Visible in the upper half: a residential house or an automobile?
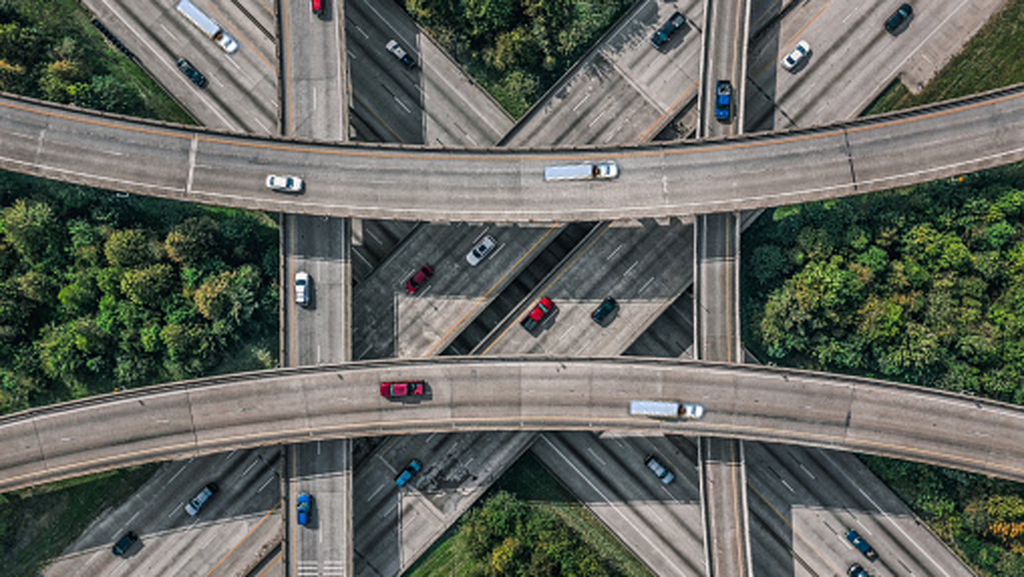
automobile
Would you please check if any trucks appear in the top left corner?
Yes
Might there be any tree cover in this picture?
Yes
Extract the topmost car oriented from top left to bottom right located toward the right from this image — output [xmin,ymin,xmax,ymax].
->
[643,454,675,485]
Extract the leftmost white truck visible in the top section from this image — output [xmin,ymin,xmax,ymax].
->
[176,0,239,55]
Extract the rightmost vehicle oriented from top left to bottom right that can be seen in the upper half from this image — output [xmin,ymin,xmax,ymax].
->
[385,37,419,71]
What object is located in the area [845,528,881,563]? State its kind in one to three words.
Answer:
truck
